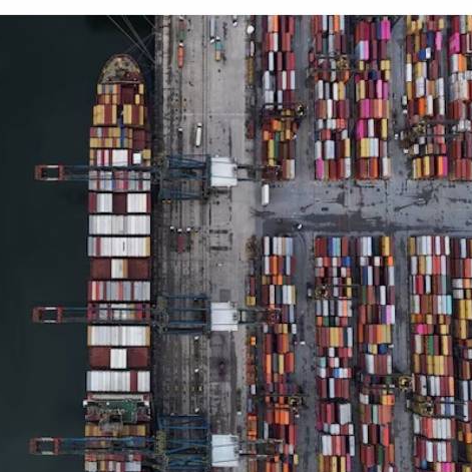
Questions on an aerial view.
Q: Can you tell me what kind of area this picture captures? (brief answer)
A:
port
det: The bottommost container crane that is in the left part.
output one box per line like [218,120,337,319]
[30,403,286,470]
